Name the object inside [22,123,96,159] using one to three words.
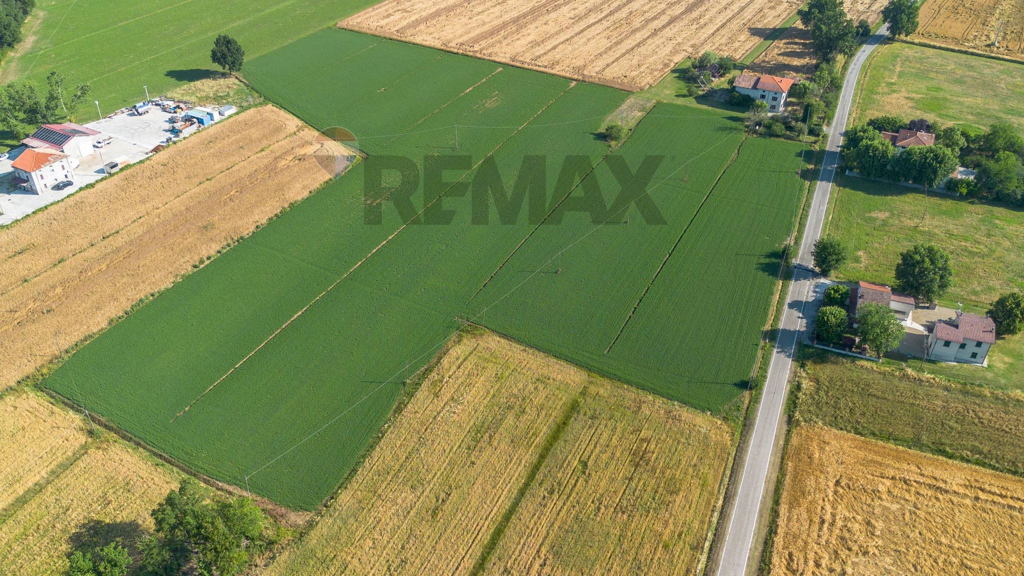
shed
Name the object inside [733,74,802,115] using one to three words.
house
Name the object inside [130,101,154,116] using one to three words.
vehicle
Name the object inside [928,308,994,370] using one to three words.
house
